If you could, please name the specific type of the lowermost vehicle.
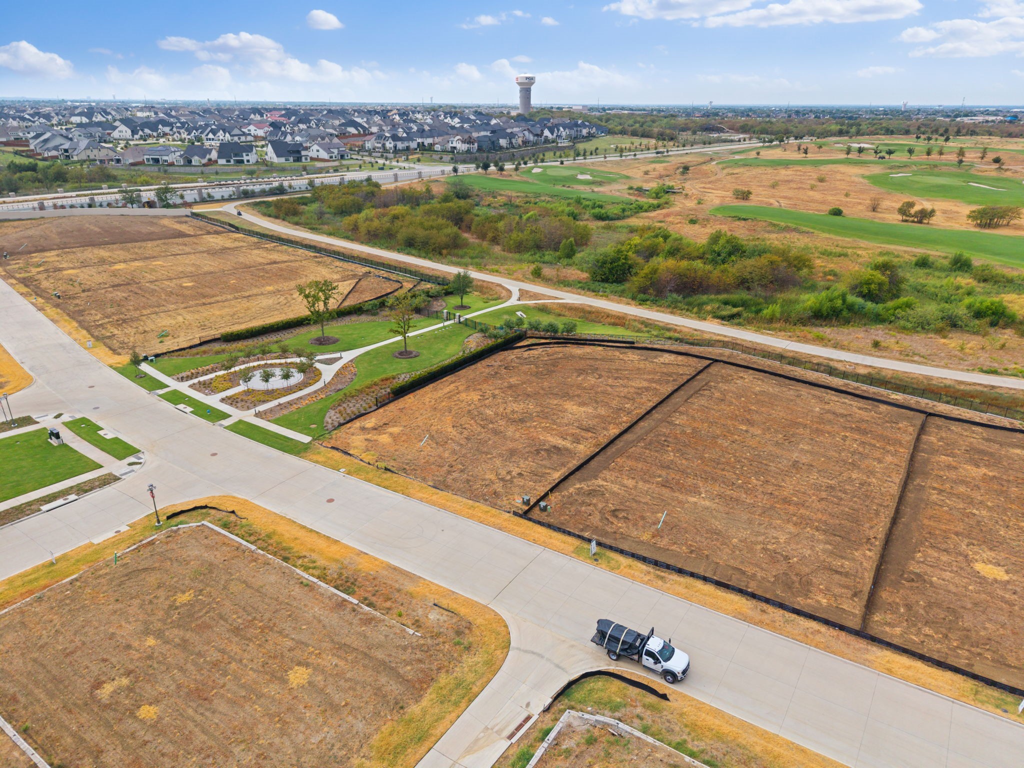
truck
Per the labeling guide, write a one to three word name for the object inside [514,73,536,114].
water tower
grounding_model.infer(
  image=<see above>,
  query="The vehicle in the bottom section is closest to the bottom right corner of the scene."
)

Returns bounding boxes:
[592,621,694,681]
